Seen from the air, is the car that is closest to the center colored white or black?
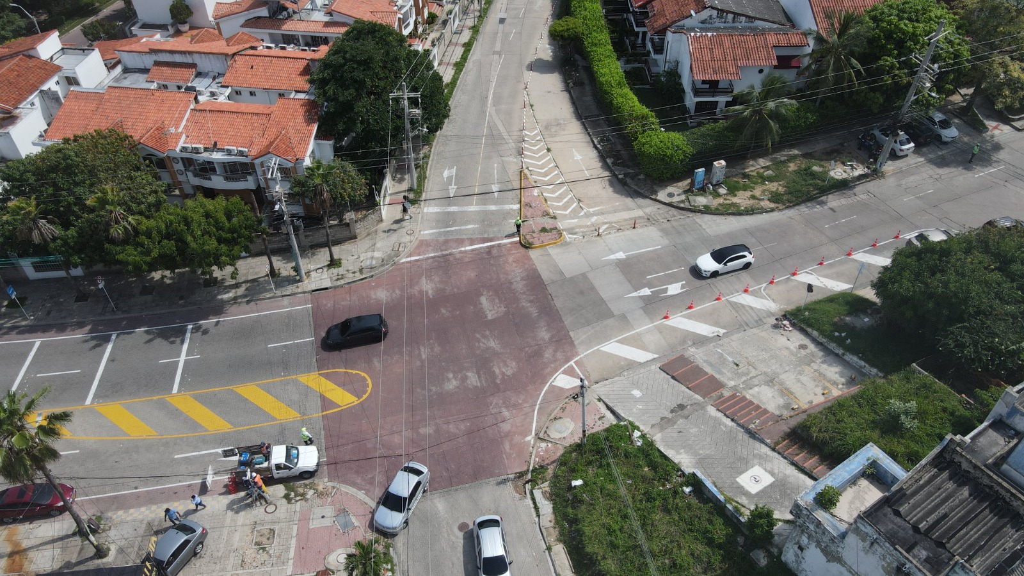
black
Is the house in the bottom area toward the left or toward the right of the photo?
right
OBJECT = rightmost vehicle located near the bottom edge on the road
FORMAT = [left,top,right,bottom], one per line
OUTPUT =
[472,512,516,576]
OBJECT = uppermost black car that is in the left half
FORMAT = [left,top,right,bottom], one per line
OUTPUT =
[325,310,391,350]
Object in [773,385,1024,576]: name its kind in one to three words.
house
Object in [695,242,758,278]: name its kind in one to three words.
car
